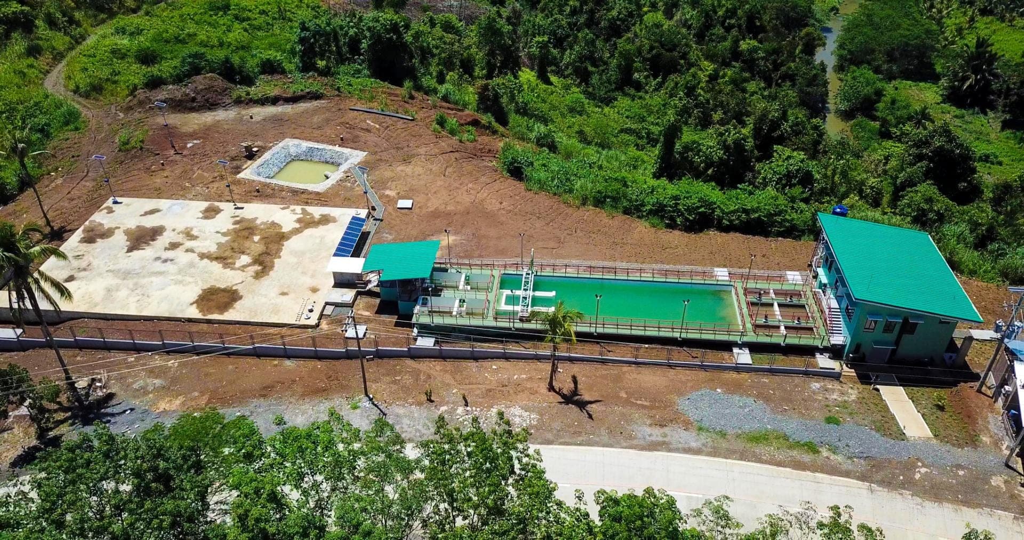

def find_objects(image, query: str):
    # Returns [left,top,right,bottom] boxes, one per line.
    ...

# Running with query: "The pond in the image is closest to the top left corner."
[238,138,367,192]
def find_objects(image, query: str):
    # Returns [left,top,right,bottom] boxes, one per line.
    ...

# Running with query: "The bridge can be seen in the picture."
[515,262,537,326]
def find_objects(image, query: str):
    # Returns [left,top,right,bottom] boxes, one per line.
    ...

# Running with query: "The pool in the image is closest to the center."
[496,276,740,329]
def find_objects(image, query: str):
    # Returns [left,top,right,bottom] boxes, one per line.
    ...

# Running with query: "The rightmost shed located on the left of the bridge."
[362,237,441,314]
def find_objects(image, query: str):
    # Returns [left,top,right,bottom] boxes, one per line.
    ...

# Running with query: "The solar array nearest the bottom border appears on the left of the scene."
[331,214,368,256]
